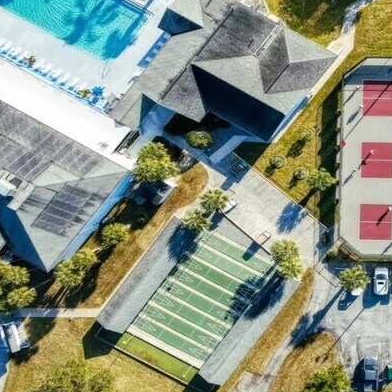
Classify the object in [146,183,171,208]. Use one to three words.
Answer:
car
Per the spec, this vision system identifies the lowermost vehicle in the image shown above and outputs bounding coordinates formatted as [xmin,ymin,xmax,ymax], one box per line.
[361,354,379,392]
